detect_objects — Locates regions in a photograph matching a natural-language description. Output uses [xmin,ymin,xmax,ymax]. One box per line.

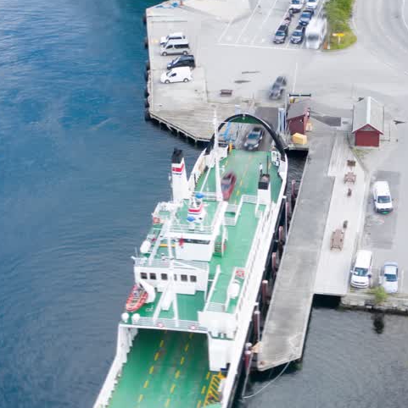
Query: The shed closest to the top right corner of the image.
[352,101,384,146]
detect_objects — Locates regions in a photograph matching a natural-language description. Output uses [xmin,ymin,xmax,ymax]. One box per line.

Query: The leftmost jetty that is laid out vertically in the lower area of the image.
[252,134,338,380]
